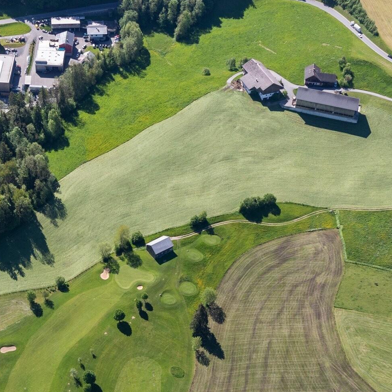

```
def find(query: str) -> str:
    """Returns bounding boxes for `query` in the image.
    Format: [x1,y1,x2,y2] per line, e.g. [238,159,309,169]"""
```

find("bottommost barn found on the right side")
[283,85,360,123]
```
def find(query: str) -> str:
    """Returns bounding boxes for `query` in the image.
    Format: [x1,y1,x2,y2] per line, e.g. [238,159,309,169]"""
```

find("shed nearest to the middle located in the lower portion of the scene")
[147,236,174,257]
